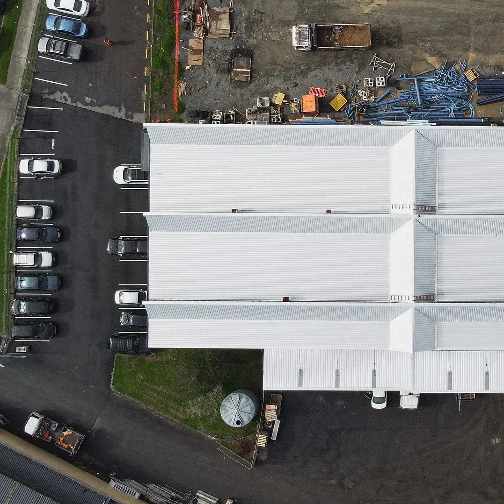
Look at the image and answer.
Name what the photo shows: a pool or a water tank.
water tank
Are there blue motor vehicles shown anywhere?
Yes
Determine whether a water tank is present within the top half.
No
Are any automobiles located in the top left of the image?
Yes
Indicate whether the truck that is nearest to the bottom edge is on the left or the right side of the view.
left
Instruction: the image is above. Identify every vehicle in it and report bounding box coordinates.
[397,394,421,409]
[112,163,150,186]
[115,287,149,308]
[39,35,87,61]
[123,310,148,329]
[294,20,373,51]
[18,157,64,177]
[370,394,390,411]
[109,334,154,355]
[16,271,64,293]
[110,236,149,257]
[15,224,64,245]
[12,250,58,270]
[47,0,93,18]
[20,411,89,456]
[12,296,54,318]
[45,14,91,39]
[15,203,56,221]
